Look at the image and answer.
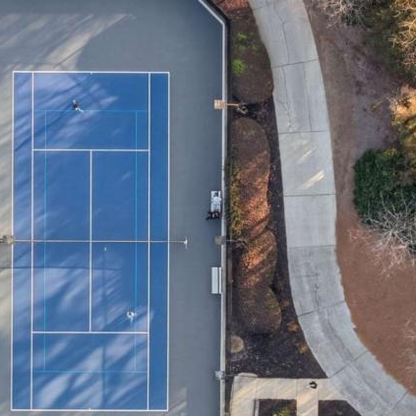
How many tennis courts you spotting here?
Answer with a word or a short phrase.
1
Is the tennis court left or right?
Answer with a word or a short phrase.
left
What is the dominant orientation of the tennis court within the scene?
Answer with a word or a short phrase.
from top to bottom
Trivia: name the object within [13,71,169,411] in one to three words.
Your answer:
tennis court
